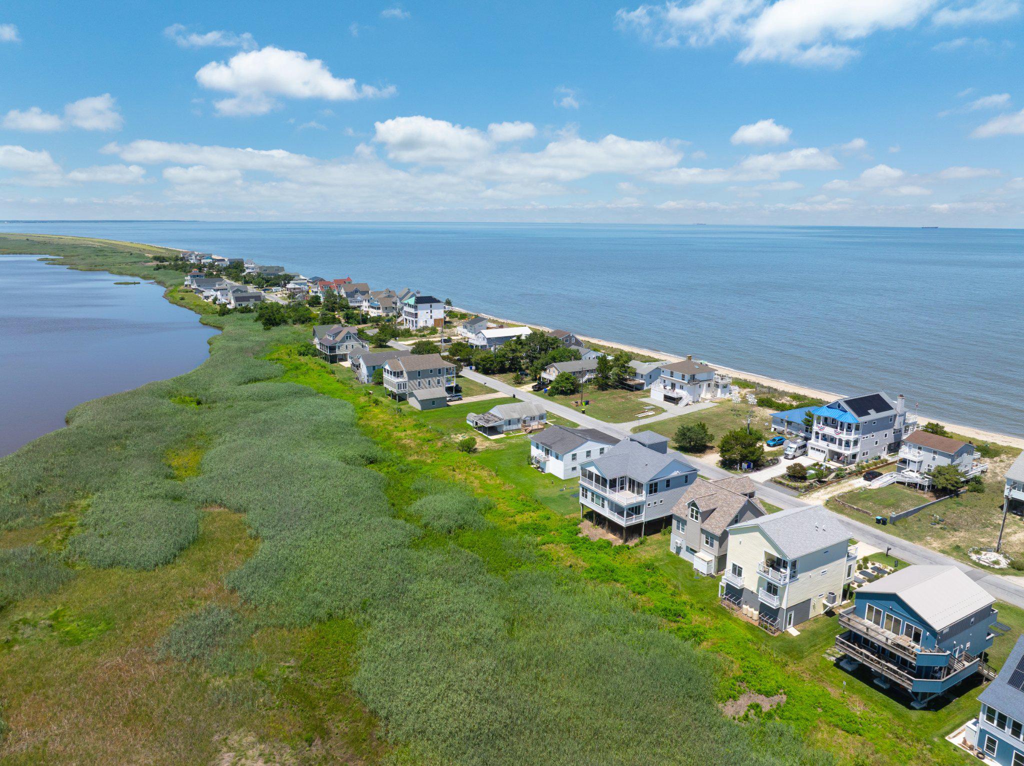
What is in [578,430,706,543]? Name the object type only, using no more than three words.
house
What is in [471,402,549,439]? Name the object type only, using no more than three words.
house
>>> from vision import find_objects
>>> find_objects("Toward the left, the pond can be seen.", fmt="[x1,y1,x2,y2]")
[0,254,222,469]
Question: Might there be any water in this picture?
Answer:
Yes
